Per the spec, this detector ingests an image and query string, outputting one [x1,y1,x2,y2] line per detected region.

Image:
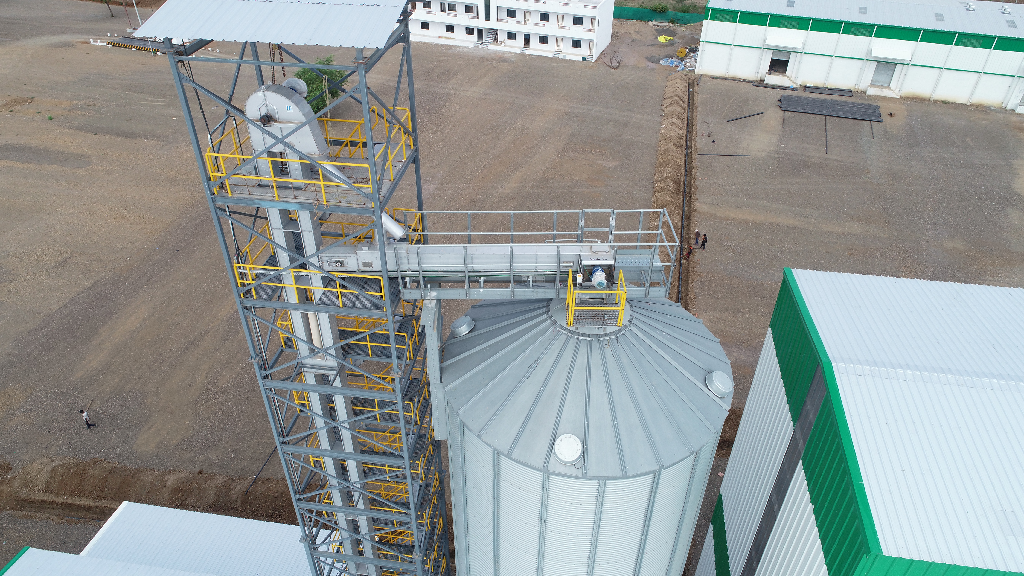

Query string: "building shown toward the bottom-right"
[691,267,1024,576]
